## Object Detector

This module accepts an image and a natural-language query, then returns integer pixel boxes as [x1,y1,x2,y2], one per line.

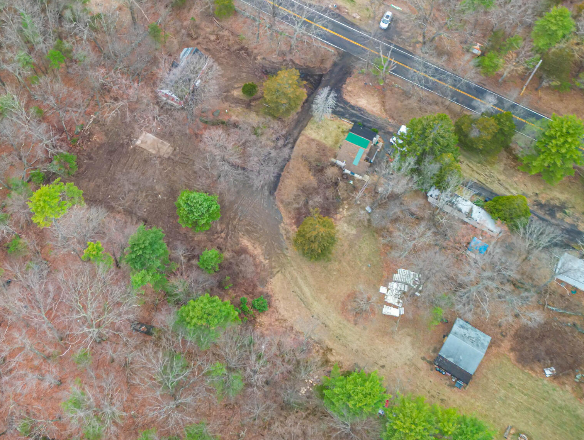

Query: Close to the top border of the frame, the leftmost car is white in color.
[379,12,392,29]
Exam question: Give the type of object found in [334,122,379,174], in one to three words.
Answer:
house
